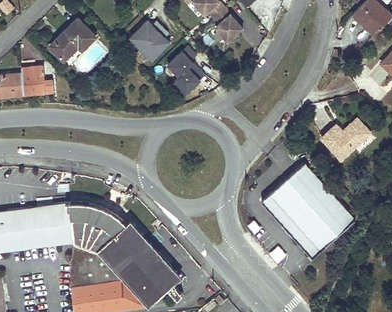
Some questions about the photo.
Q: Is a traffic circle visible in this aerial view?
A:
Yes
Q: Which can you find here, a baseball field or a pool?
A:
pool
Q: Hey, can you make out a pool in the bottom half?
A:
No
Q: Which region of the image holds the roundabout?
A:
center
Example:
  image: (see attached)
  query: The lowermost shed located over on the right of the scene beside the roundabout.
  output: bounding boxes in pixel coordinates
[264,166,354,256]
